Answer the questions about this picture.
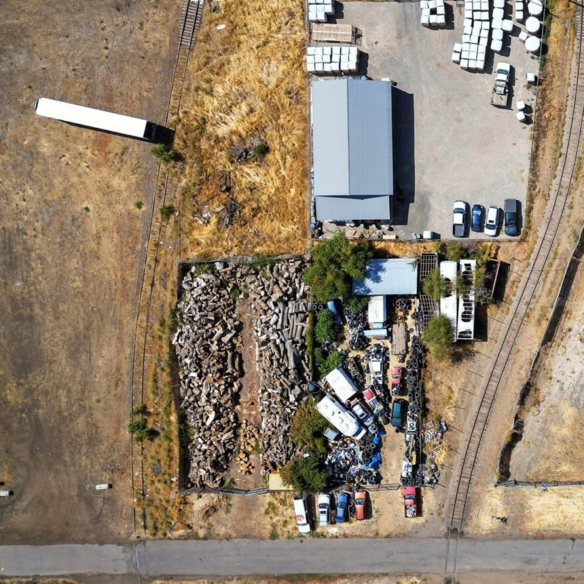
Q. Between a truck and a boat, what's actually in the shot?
truck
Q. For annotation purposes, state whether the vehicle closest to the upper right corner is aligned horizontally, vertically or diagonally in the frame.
vertically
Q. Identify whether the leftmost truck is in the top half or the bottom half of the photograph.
top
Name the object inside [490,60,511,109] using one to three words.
vehicle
